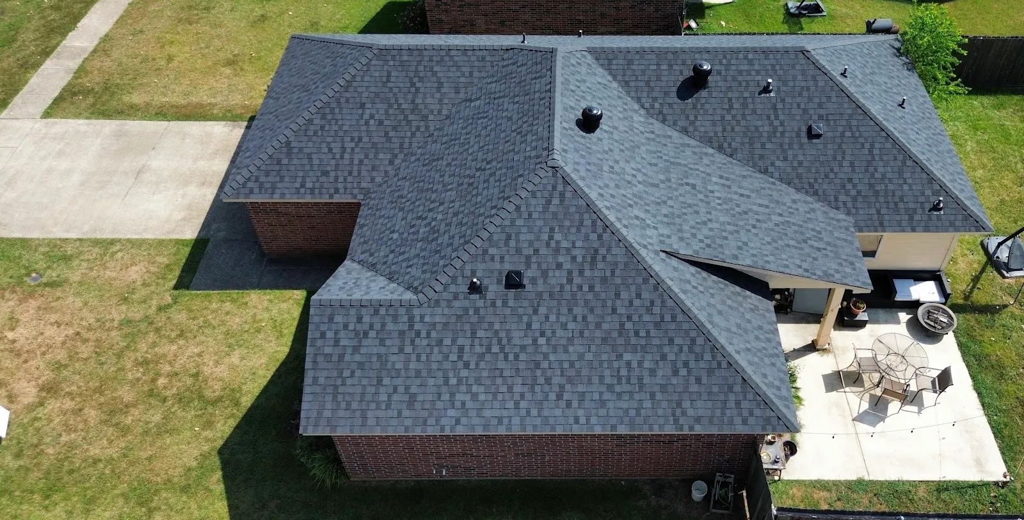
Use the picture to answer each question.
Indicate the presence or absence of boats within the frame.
No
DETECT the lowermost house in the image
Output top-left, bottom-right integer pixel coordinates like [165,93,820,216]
[220,27,995,485]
